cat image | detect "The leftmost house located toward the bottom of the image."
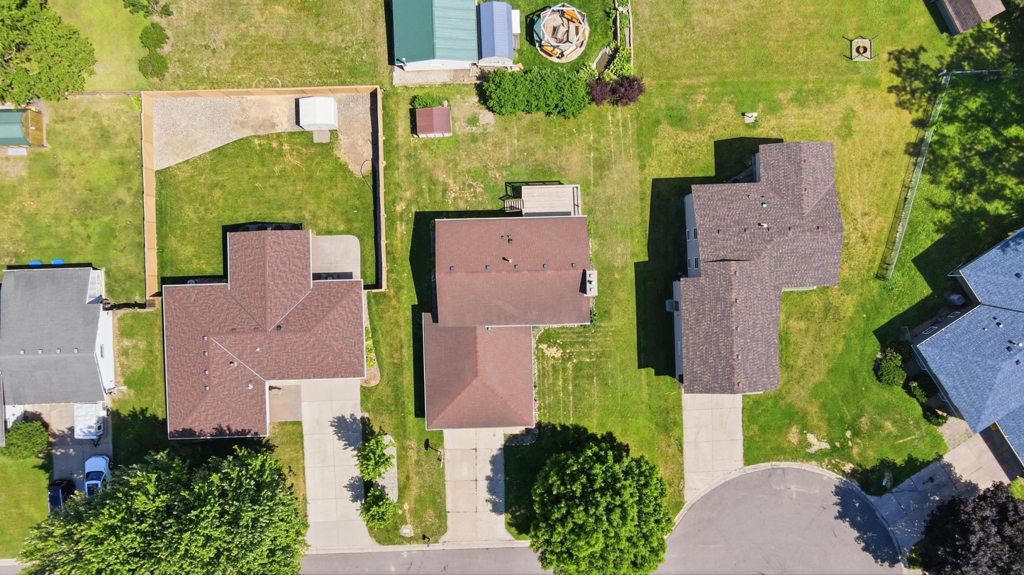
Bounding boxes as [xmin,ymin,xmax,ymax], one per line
[0,267,117,446]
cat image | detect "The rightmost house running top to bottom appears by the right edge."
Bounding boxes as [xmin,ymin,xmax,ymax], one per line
[909,216,1024,478]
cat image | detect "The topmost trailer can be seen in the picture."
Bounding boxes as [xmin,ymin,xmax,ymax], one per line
[75,403,112,449]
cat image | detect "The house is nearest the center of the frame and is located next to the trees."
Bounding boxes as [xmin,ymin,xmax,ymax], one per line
[423,184,598,430]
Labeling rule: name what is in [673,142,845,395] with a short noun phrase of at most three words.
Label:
house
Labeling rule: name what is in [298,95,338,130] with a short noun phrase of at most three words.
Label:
shed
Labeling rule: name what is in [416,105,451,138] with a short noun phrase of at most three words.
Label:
shed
